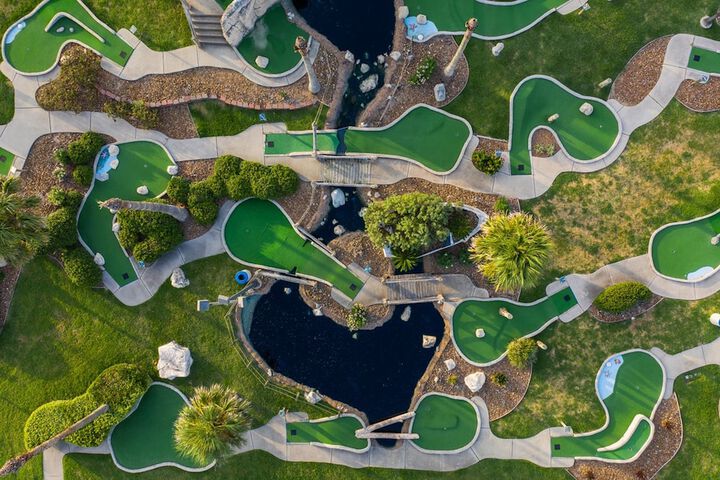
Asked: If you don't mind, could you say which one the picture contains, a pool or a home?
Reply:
pool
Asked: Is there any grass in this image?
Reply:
Yes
